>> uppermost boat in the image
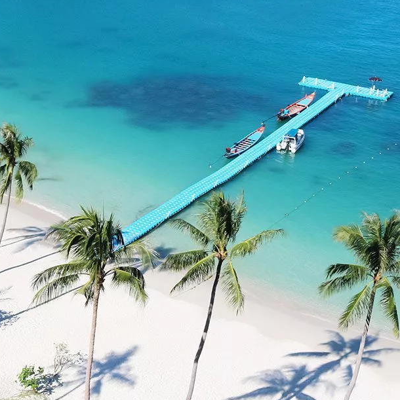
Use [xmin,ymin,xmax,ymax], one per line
[259,88,316,124]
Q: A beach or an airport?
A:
beach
